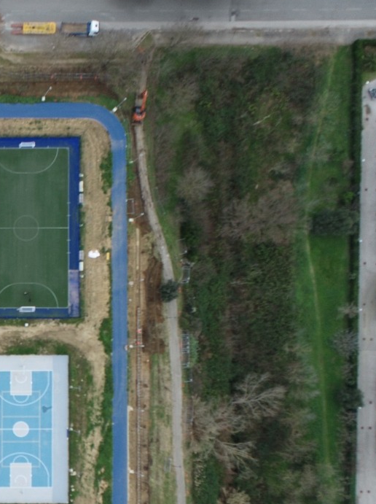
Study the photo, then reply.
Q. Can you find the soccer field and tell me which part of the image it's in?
left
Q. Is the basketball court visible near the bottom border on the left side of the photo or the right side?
left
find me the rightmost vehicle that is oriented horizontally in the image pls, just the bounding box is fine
[58,21,96,36]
